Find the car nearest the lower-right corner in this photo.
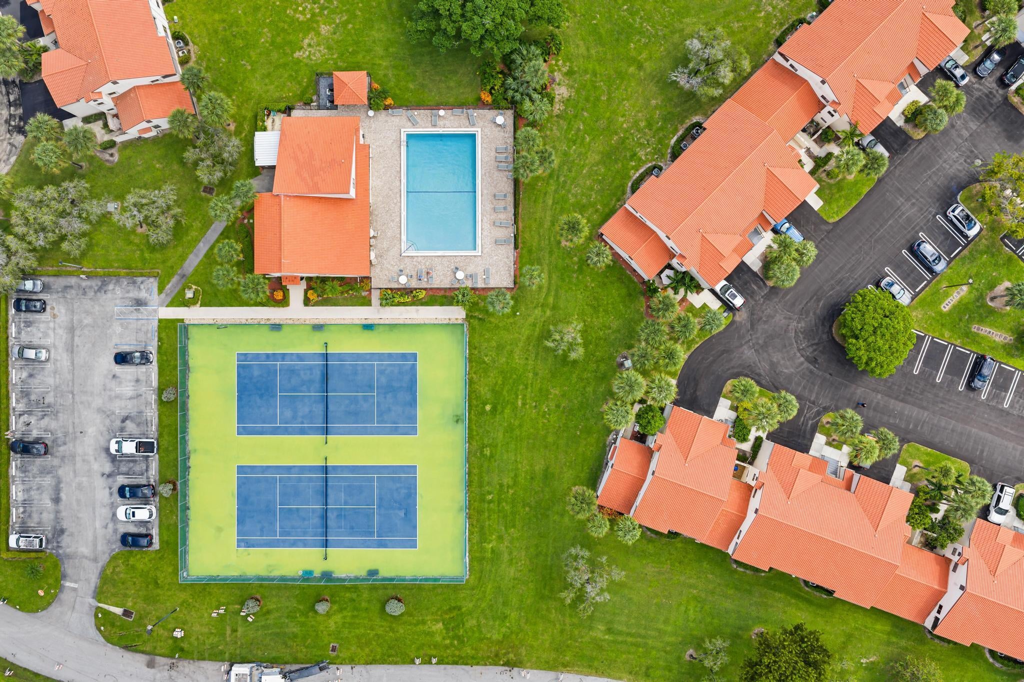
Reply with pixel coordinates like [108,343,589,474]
[986,483,1014,523]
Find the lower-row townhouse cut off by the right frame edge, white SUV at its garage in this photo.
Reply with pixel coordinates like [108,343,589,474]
[869,518,1024,661]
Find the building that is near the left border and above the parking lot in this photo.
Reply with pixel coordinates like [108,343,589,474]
[23,0,201,138]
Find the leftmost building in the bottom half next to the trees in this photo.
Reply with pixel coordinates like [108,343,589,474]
[597,406,740,542]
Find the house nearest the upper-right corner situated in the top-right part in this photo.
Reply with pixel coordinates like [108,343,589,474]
[729,0,968,146]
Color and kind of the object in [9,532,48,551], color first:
white car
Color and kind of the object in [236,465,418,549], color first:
blue tennis court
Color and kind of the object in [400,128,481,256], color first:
blue swimming pool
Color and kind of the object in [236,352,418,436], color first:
blue tennis court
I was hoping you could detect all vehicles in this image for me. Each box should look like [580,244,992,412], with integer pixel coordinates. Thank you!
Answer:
[945,203,980,239]
[910,239,947,274]
[986,483,1014,523]
[856,132,892,161]
[973,47,1008,80]
[109,438,159,456]
[118,483,156,501]
[9,532,48,551]
[121,532,155,549]
[713,278,746,312]
[12,345,51,362]
[935,56,970,88]
[117,505,157,522]
[967,354,996,390]
[12,296,49,314]
[114,349,156,366]
[771,218,805,246]
[10,439,51,457]
[1000,49,1024,83]
[876,274,911,301]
